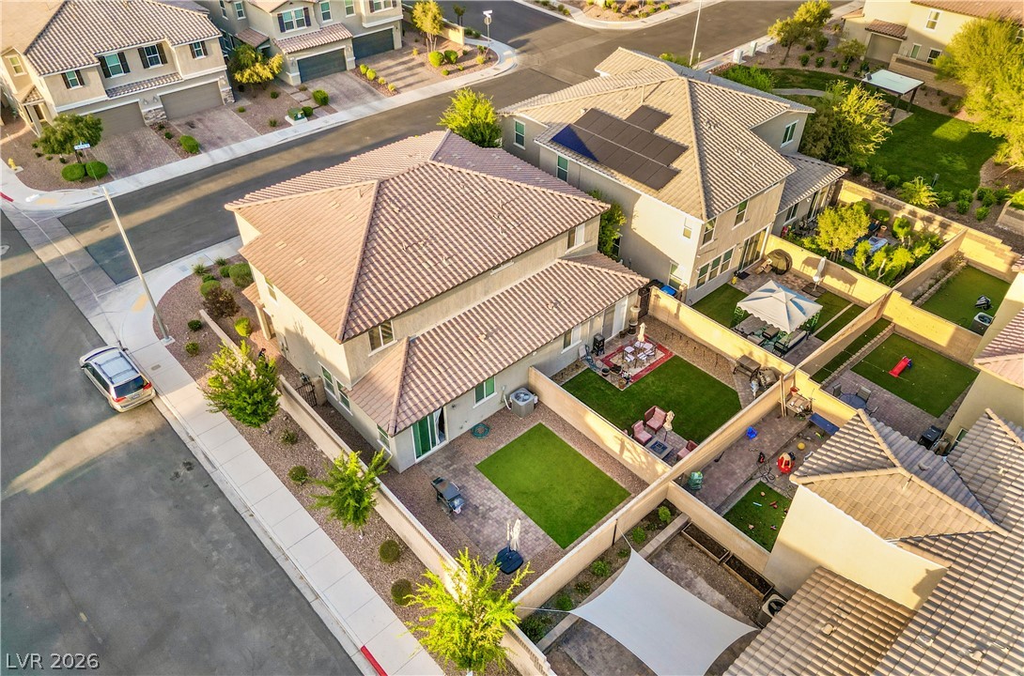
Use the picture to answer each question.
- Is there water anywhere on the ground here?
No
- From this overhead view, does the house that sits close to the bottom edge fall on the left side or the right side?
right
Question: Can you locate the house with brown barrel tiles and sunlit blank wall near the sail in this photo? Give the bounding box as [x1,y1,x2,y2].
[727,407,1024,676]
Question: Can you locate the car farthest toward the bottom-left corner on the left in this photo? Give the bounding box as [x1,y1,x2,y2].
[84,344,155,414]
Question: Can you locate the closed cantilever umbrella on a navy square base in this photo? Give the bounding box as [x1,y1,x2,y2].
[493,516,527,571]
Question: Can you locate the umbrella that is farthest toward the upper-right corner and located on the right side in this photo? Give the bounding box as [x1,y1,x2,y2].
[812,256,825,289]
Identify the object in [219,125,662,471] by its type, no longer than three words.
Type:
house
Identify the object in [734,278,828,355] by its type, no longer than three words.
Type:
gazebo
